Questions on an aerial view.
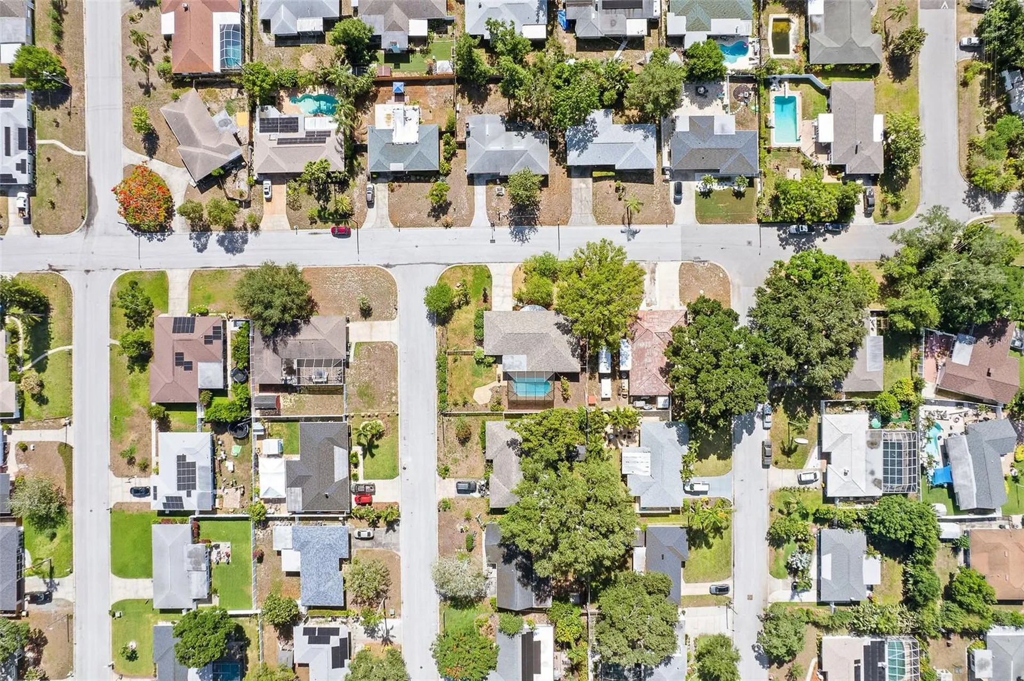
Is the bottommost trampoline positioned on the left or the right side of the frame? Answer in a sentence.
The bottommost trampoline is on the left side of the image.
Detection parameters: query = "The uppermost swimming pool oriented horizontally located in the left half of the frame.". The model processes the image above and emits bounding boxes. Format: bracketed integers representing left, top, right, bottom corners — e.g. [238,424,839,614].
[290,93,340,116]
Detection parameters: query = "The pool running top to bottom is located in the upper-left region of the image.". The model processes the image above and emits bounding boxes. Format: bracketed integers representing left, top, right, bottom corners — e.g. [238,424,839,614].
[221,27,241,67]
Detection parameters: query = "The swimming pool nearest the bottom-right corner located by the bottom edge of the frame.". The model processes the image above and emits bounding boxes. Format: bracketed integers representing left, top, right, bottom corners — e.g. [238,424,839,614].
[888,640,908,681]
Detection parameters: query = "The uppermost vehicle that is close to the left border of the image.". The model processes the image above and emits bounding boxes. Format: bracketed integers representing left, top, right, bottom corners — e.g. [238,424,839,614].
[16,193,29,218]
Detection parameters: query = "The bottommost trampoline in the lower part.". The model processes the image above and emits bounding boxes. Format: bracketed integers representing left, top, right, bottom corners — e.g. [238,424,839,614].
[228,418,249,439]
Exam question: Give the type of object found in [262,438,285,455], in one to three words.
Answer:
shed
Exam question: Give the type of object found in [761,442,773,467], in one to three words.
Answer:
vehicle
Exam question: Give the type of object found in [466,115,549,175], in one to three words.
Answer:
house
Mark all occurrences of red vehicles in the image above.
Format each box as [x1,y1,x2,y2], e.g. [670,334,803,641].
[354,495,374,505]
[331,226,351,236]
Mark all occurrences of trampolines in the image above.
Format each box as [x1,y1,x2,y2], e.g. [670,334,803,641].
[228,418,249,439]
[228,368,248,384]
